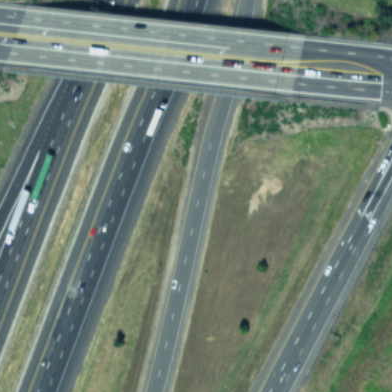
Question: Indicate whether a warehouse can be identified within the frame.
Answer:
No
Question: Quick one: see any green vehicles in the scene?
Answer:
Yes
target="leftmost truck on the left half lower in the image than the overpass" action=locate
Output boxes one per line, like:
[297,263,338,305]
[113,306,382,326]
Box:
[4,190,29,244]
